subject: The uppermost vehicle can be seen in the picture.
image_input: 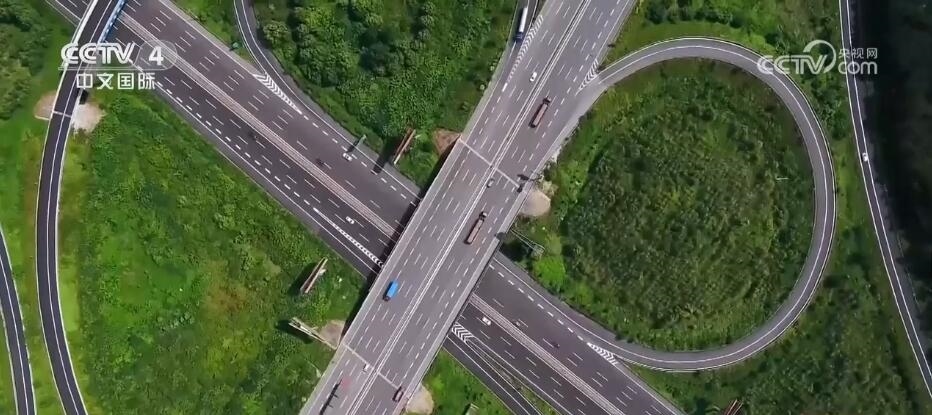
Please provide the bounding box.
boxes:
[513,5,528,43]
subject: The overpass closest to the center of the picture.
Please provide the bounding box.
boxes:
[301,0,636,415]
